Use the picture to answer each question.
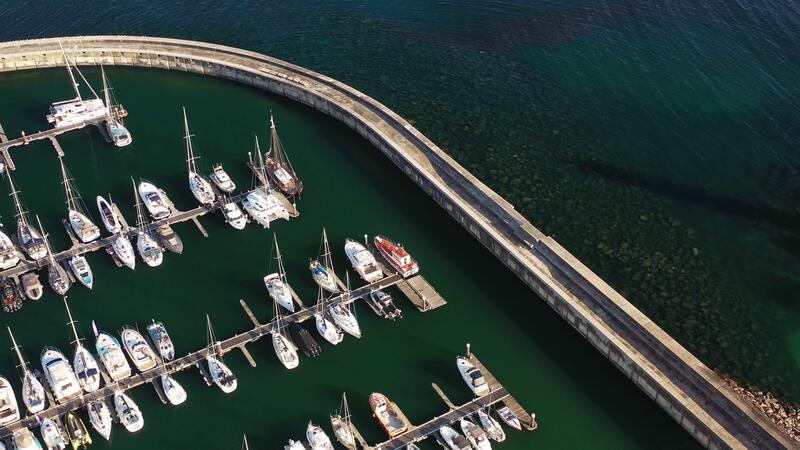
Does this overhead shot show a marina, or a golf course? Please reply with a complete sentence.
What you see here is a marina.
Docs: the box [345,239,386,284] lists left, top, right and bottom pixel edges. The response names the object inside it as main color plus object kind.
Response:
white boat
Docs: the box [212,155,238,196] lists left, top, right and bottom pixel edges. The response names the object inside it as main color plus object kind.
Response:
white boat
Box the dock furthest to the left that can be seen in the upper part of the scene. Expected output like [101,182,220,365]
[0,115,113,171]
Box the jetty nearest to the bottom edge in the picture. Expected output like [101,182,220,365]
[348,352,537,450]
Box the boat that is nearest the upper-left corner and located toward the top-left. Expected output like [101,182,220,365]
[47,38,110,130]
